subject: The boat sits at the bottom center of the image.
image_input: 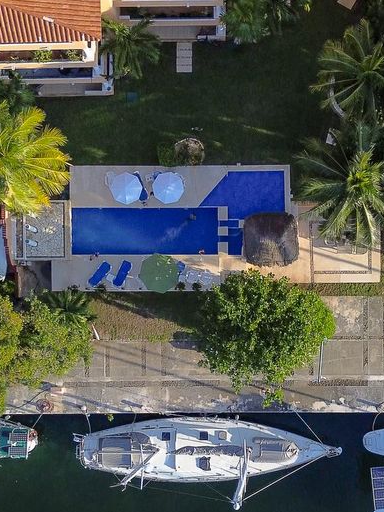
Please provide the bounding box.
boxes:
[74,414,343,512]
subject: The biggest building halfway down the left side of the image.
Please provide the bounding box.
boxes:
[12,202,74,261]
